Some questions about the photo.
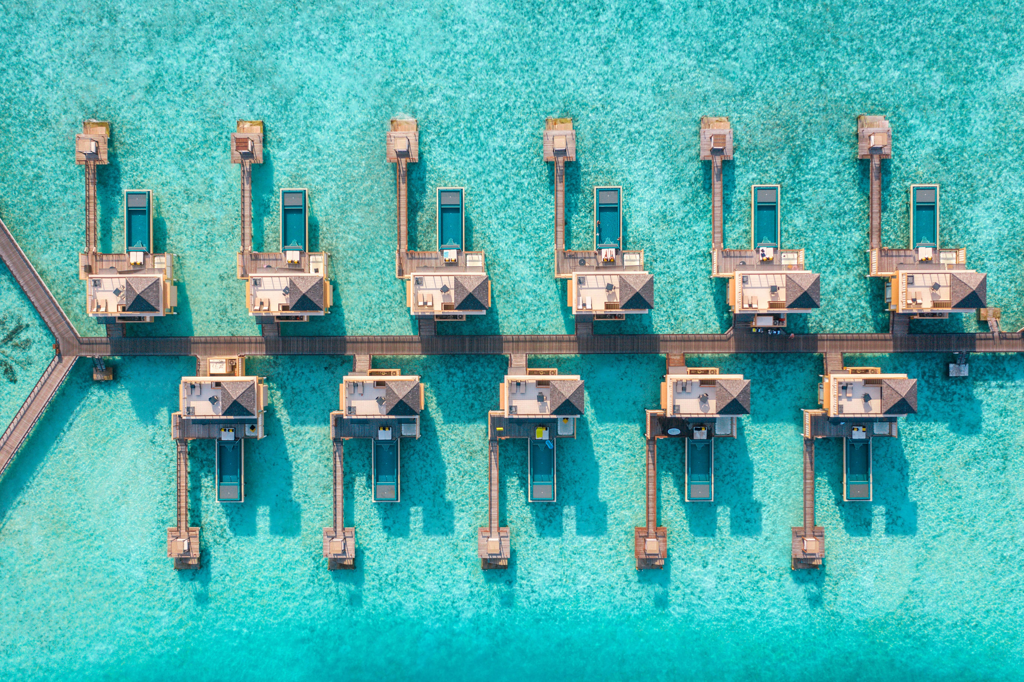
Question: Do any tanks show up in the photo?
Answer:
No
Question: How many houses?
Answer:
11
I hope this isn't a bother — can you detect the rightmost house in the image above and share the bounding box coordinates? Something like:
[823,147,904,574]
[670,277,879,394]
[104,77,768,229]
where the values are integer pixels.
[864,247,987,322]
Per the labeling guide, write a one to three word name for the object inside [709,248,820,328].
house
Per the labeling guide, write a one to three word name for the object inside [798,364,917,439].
house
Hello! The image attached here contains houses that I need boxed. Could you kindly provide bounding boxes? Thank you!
[170,356,269,442]
[554,248,654,323]
[329,367,426,441]
[488,366,585,440]
[236,250,334,325]
[864,247,987,322]
[643,365,750,440]
[395,249,492,324]
[709,248,820,328]
[798,364,917,439]
[78,251,180,325]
